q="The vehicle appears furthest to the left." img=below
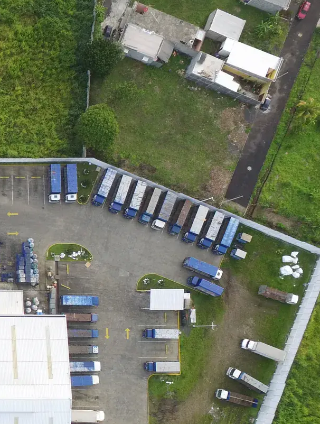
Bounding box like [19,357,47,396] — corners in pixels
[46,164,61,203]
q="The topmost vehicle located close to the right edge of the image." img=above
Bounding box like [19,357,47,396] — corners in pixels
[295,0,311,21]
